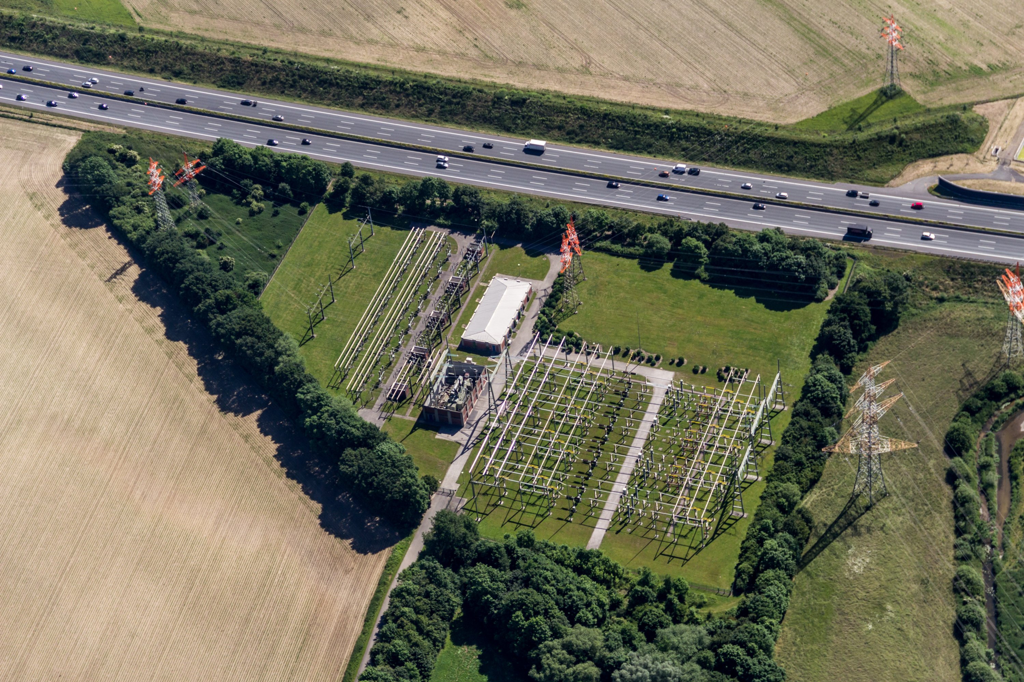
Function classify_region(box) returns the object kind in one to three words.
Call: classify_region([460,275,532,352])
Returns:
building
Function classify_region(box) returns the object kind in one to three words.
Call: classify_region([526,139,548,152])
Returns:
vehicle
